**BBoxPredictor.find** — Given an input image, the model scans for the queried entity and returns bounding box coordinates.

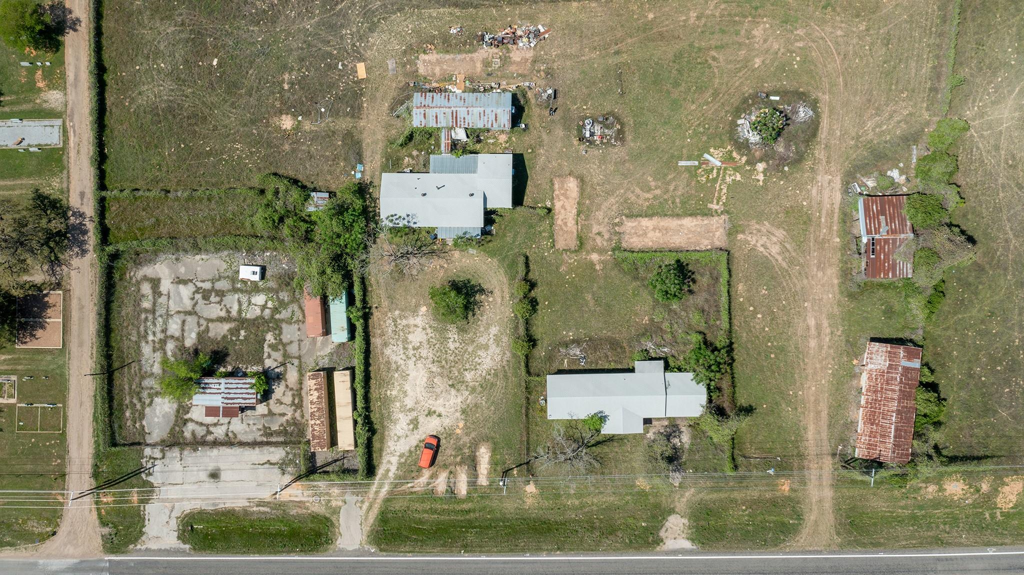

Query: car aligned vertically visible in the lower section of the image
[420,434,439,469]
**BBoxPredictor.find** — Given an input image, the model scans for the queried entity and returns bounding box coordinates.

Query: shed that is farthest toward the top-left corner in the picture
[311,192,331,210]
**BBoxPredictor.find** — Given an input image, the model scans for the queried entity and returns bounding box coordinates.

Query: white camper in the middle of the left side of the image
[240,265,268,280]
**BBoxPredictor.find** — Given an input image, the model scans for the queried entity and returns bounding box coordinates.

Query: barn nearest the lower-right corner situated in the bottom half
[850,342,922,464]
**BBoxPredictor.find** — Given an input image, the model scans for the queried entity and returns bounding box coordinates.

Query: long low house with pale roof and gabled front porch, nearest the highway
[546,360,707,434]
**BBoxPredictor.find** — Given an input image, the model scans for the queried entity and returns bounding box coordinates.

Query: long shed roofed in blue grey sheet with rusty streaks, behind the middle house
[413,92,516,131]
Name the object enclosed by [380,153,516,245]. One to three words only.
house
